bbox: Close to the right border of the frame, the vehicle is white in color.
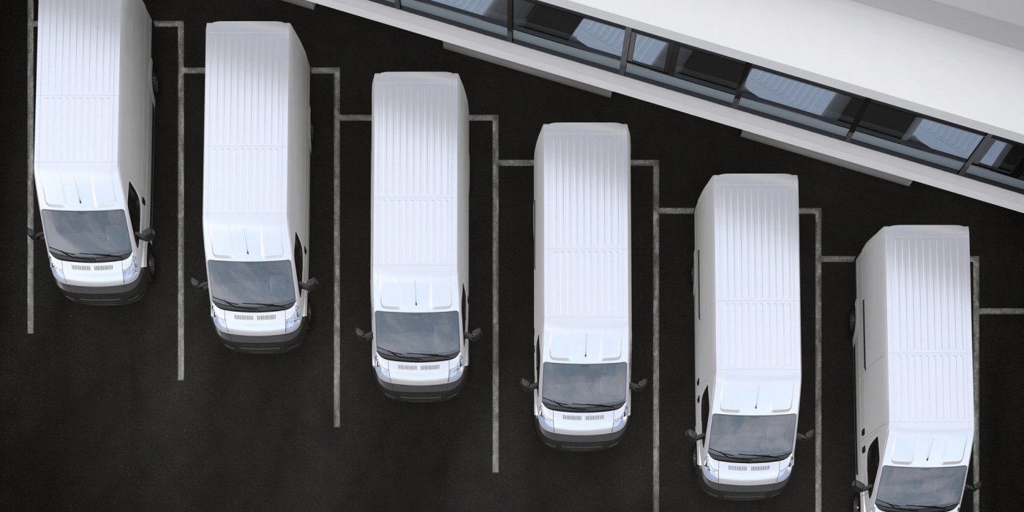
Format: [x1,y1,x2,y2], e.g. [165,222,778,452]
[853,226,982,512]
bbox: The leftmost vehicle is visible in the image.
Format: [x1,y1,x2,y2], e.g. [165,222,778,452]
[25,0,154,306]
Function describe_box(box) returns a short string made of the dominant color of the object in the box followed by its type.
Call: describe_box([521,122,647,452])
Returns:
white van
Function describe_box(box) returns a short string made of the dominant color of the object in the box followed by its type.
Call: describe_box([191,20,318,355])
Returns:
white van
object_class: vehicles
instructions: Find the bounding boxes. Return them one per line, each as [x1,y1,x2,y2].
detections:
[686,174,813,501]
[356,71,482,403]
[191,20,318,355]
[853,226,982,512]
[521,122,647,452]
[25,0,154,306]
